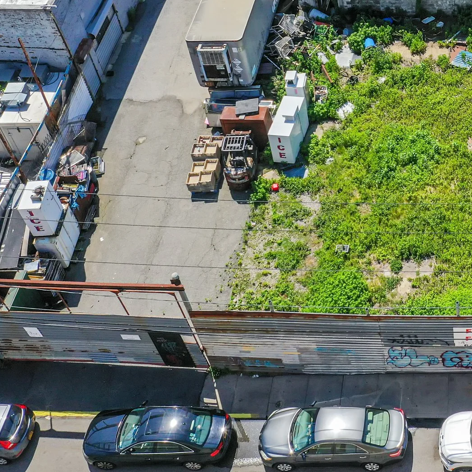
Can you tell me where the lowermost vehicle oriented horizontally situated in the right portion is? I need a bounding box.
[260,400,412,472]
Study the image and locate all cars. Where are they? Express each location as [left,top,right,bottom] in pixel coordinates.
[260,400,412,472]
[0,406,54,470]
[86,400,244,472]
[439,407,472,472]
